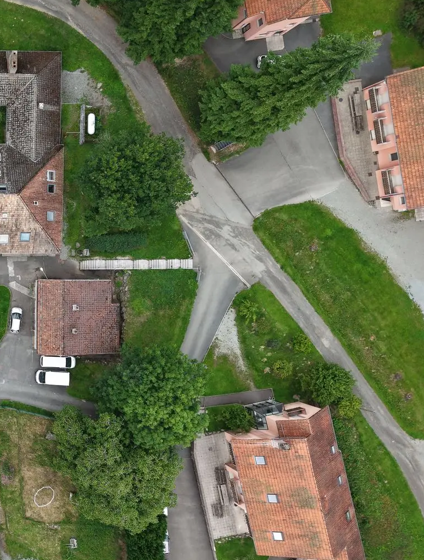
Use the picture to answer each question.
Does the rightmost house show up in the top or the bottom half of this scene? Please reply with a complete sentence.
You can find the rightmost house in the top half.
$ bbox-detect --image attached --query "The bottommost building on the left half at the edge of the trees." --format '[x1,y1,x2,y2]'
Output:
[34,279,122,355]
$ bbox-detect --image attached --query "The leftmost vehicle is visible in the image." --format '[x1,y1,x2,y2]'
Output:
[10,308,24,332]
